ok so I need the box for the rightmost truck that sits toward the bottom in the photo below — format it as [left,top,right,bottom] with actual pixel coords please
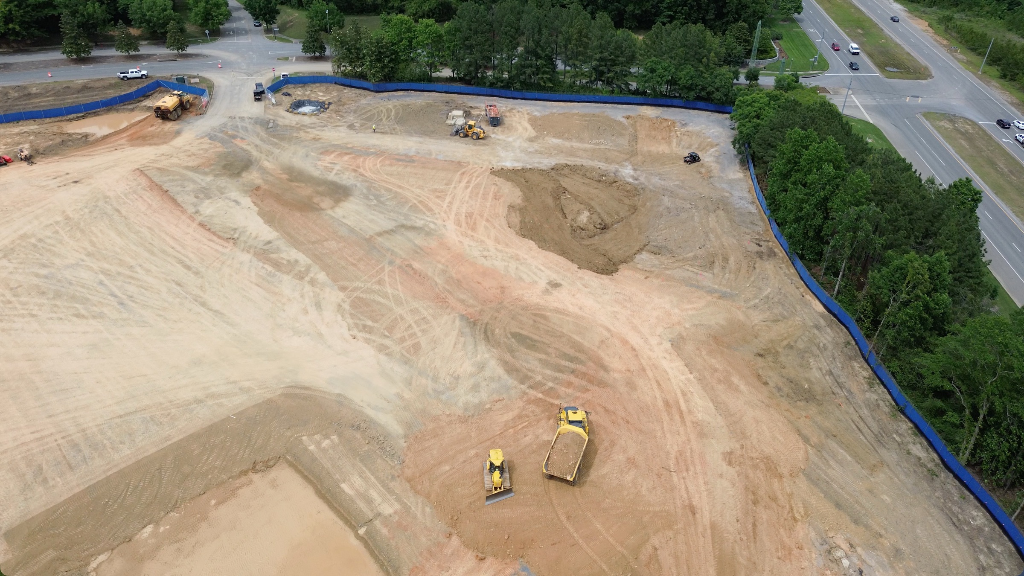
[543,409,588,487]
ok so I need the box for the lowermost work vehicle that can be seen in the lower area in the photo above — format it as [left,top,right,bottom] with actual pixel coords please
[483,452,513,506]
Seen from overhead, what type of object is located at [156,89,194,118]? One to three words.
truck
